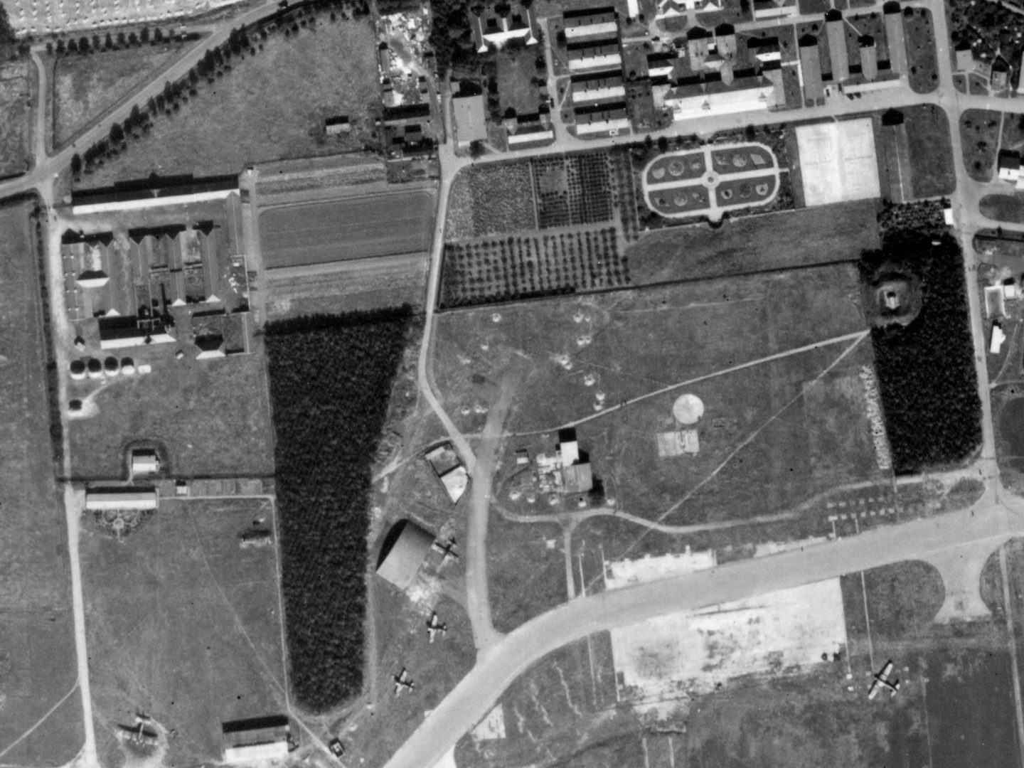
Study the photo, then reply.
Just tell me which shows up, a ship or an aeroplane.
aeroplane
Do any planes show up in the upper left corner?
No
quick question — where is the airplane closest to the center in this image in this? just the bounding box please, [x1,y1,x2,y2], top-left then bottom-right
[435,538,459,561]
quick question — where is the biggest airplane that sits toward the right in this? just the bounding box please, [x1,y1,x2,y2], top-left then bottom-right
[869,664,901,699]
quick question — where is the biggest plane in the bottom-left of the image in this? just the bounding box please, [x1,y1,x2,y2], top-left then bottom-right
[119,718,158,745]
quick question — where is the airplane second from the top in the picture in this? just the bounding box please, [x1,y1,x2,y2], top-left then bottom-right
[427,612,449,640]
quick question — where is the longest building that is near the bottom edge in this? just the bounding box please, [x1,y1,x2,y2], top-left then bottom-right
[222,725,291,763]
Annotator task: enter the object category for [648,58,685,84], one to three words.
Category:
house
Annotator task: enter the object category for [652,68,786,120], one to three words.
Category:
building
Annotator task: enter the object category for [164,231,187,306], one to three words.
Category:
building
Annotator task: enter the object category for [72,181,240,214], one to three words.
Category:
barn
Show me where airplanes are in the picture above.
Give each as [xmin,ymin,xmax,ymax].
[427,612,449,640]
[869,664,901,699]
[393,668,417,695]
[119,718,158,745]
[435,538,459,561]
